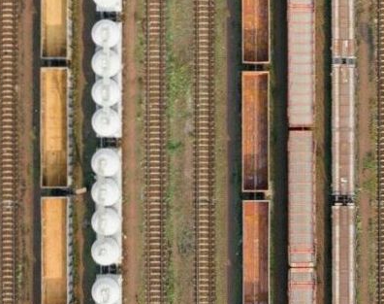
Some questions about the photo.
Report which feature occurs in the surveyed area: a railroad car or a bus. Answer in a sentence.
It is a railroad car that can be seen here.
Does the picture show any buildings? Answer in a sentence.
No, there's no building here.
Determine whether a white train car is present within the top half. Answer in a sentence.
Yes, a white train car can be seen within the top half.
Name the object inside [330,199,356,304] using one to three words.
rail car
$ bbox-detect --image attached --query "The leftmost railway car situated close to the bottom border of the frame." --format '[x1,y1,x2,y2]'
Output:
[41,193,73,304]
